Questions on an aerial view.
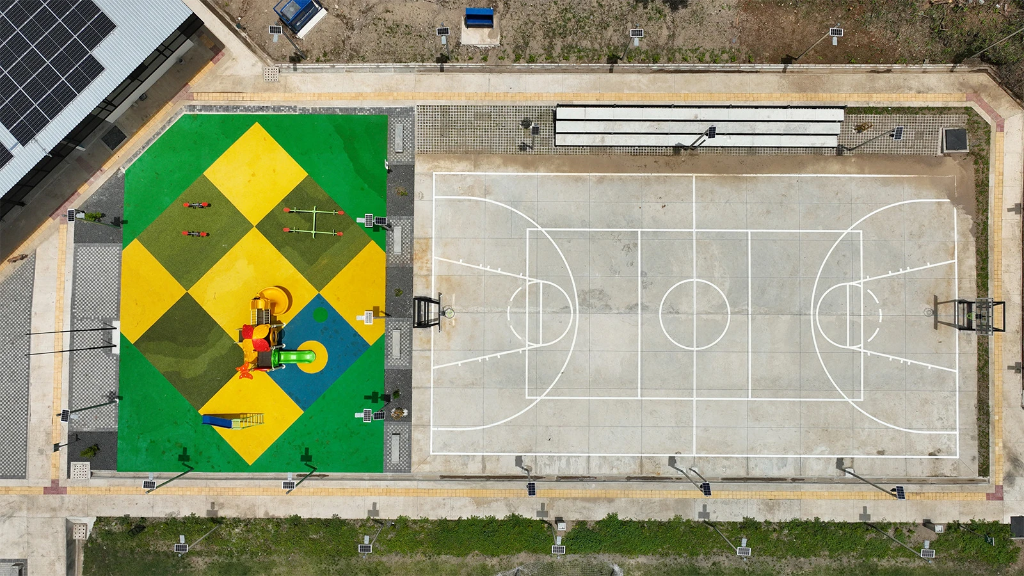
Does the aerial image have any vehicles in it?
No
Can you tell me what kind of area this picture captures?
sports ground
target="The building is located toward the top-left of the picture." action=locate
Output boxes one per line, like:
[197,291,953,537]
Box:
[0,0,205,232]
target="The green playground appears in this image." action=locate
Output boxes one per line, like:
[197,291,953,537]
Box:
[117,114,388,473]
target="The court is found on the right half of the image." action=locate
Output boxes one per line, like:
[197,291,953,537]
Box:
[412,154,978,478]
